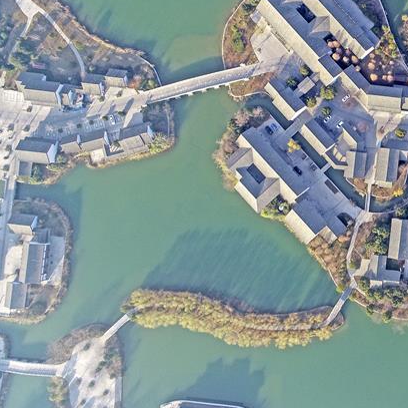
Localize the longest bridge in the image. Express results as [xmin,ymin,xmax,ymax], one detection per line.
[144,55,266,105]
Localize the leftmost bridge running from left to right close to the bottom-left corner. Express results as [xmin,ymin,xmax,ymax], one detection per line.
[4,361,65,376]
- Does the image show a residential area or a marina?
residential area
